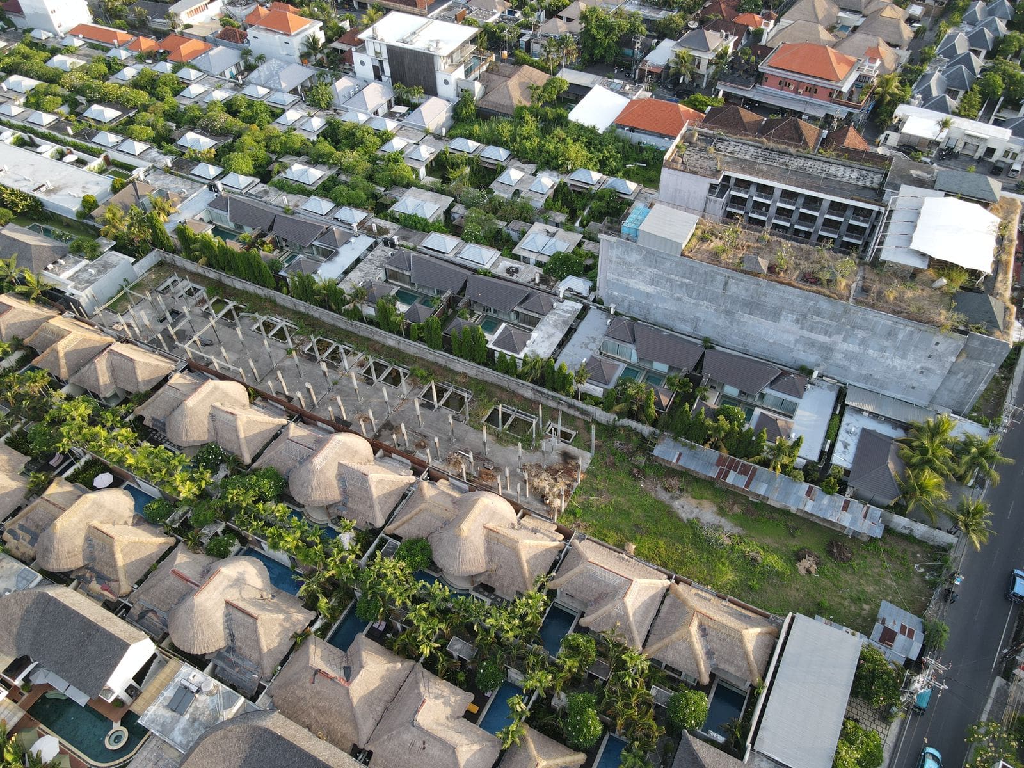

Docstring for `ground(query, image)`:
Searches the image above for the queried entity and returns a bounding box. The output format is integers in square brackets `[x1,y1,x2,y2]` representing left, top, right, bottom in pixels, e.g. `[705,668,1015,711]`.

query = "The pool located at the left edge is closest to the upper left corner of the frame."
[26,220,80,244]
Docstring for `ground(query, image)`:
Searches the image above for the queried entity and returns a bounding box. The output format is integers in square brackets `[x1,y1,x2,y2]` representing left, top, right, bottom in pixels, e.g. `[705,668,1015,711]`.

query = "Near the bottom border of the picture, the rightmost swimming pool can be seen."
[701,679,752,744]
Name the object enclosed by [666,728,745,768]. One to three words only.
house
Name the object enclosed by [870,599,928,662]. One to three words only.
shed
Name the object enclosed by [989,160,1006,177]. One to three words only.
car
